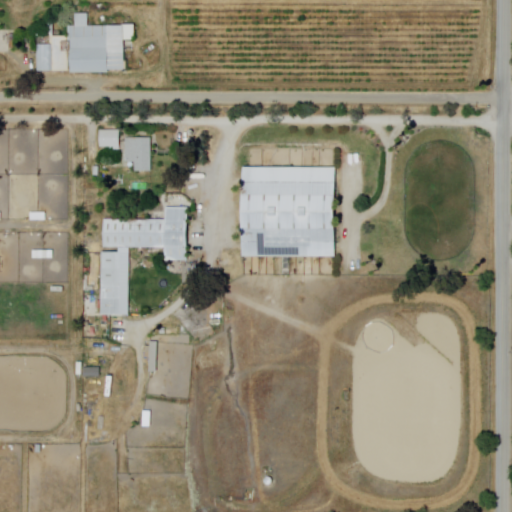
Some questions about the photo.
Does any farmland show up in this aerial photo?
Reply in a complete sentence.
Yes, some farmland is visible.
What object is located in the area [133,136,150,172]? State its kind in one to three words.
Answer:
house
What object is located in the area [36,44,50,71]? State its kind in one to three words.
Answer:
shed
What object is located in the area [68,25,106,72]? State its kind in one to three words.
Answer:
shed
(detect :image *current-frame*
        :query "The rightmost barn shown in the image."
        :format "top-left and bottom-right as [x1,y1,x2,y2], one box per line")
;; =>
[240,166,336,256]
